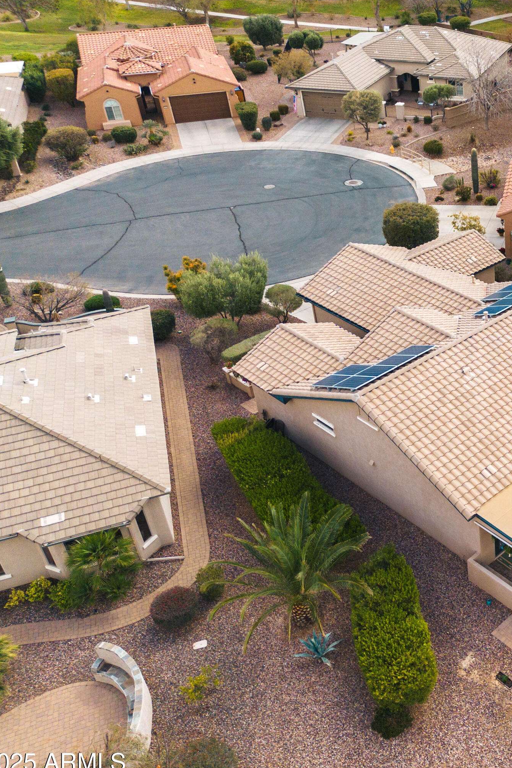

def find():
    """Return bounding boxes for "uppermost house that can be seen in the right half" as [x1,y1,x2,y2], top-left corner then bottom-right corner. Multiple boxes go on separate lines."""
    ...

[285,25,512,118]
